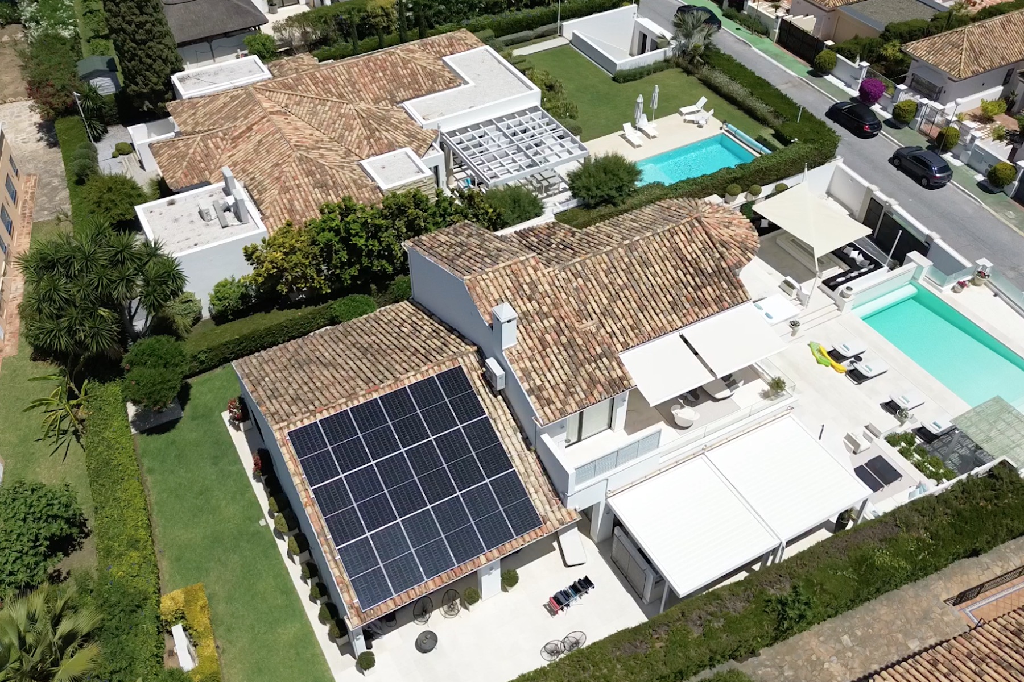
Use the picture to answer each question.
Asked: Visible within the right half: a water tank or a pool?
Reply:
pool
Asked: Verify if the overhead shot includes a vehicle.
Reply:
Yes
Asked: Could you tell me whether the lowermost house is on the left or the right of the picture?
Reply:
right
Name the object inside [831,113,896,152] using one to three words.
car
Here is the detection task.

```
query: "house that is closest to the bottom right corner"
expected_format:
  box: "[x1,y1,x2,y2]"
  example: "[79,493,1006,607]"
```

[873,585,1024,682]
